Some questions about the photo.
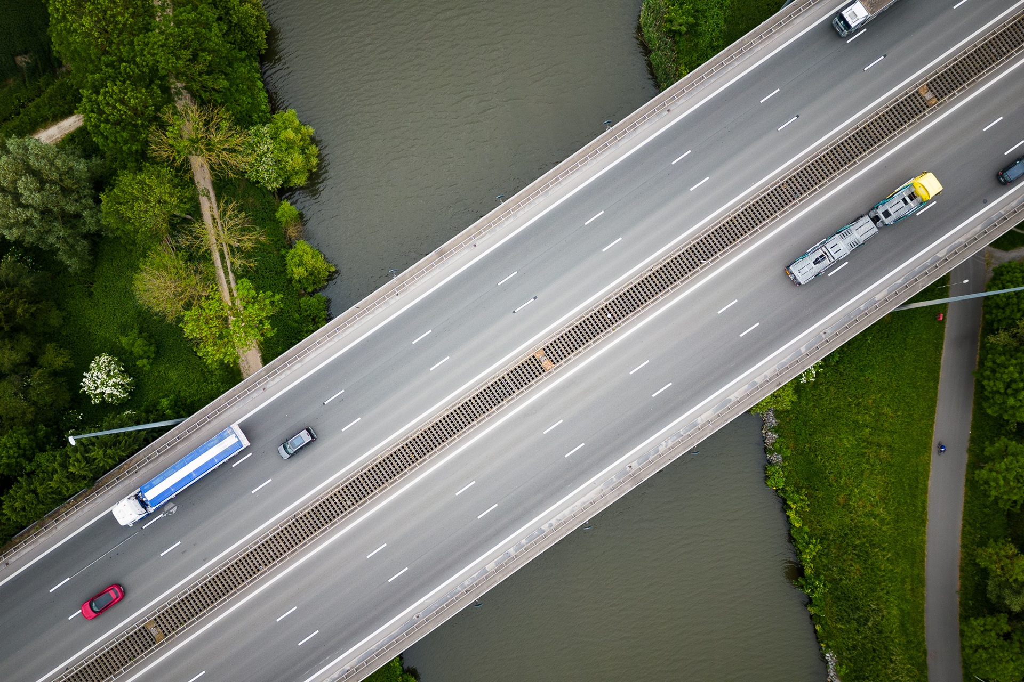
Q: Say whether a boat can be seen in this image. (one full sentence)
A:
No, there appears to be no boat in this shot.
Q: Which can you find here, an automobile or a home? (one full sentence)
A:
There is an automobile in the scene.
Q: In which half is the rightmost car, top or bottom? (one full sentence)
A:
You can find the rightmost car in the top half.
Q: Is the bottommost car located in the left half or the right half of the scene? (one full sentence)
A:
The bottommost car is on the left side of the image.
